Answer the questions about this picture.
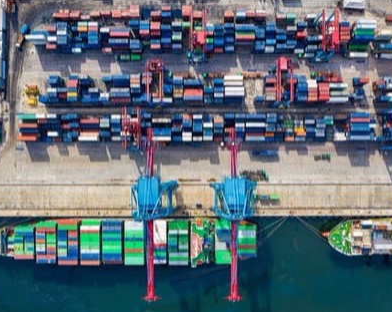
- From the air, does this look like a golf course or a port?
port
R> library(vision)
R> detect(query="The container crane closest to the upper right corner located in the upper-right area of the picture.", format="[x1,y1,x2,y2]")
[310,8,338,66]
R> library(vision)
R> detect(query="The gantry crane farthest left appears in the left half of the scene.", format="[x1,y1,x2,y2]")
[122,106,147,154]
